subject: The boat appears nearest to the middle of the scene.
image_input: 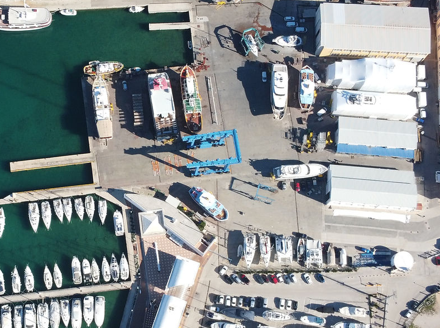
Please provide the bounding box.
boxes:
[188,185,227,221]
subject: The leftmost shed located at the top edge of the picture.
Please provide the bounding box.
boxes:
[315,3,431,62]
